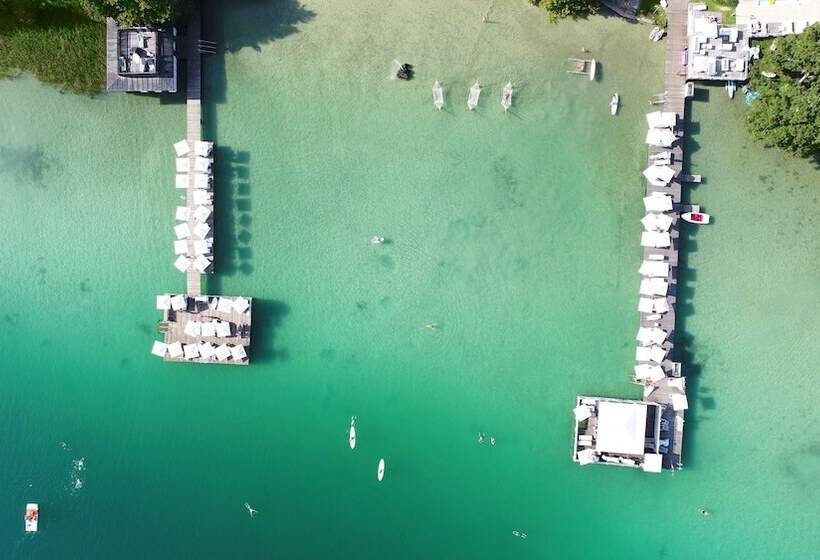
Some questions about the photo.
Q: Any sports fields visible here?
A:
No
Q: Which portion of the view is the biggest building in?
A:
top left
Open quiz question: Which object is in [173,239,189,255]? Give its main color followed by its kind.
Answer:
white umbrella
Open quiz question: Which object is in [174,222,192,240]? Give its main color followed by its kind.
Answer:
white umbrella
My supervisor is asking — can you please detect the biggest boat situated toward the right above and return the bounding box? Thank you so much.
[681,212,712,224]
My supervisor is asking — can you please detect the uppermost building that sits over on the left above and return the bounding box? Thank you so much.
[107,16,187,101]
